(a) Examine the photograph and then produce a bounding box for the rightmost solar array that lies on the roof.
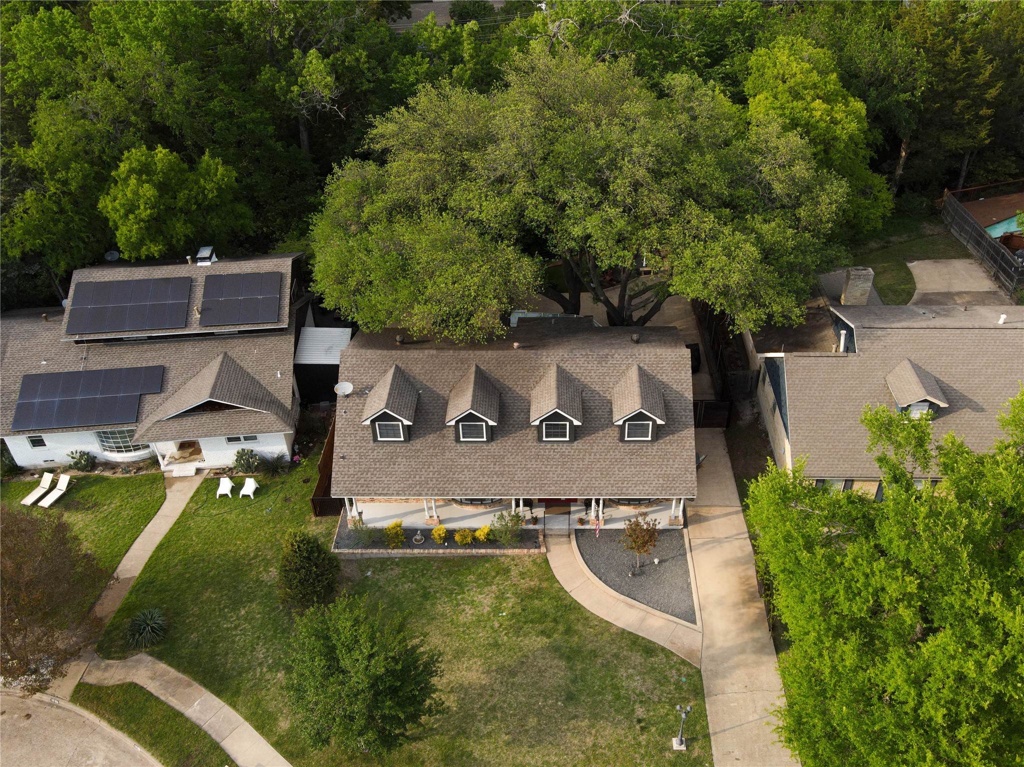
[199,270,278,325]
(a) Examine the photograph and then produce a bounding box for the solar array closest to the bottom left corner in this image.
[11,364,161,430]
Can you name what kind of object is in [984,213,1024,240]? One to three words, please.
swimming pool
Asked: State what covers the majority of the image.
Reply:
trees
